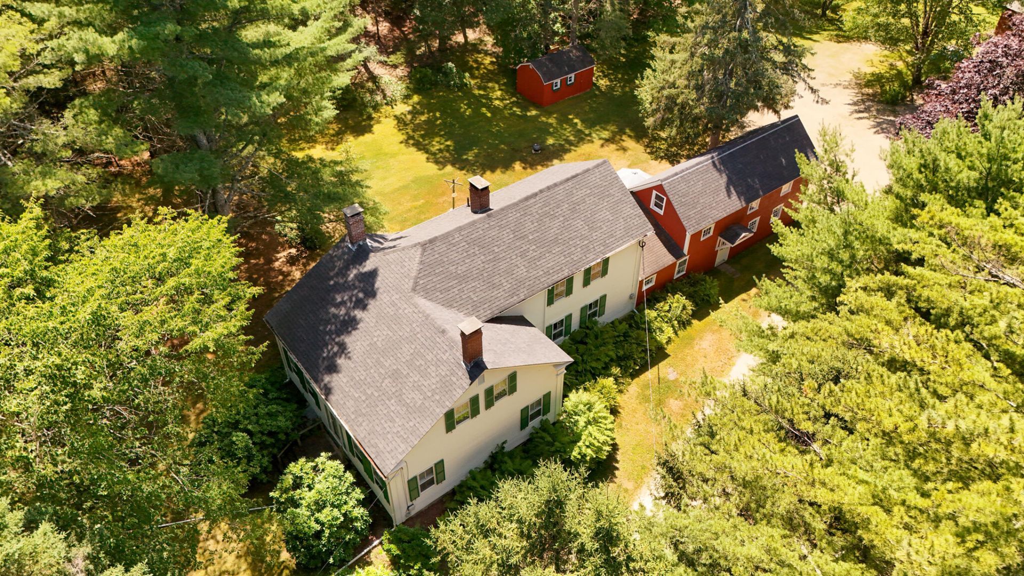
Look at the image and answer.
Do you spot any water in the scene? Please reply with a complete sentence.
No, there's no water in this view.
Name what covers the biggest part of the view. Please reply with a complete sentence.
The scene is dominated by trees.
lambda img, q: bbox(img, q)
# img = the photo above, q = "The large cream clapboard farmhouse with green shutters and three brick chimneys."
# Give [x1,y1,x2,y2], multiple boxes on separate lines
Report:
[262,159,656,537]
